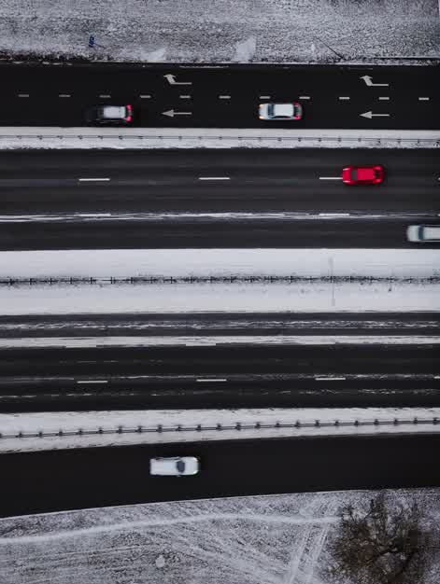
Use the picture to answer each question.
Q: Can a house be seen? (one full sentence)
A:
No, there's no house here.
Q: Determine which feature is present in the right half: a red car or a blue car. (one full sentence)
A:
The feature located in the right half is a red car.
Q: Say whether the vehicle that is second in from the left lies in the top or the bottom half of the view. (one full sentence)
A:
The vehicle that is second in from the left sits in the bottom half of the picture.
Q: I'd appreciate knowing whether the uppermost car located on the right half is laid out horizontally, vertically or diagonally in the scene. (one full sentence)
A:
In this picture, the uppermost car located on the right half lies horizontally.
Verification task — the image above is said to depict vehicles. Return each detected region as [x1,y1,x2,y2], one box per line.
[257,100,302,121]
[341,164,383,187]
[405,223,440,245]
[148,456,201,478]
[85,104,132,126]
